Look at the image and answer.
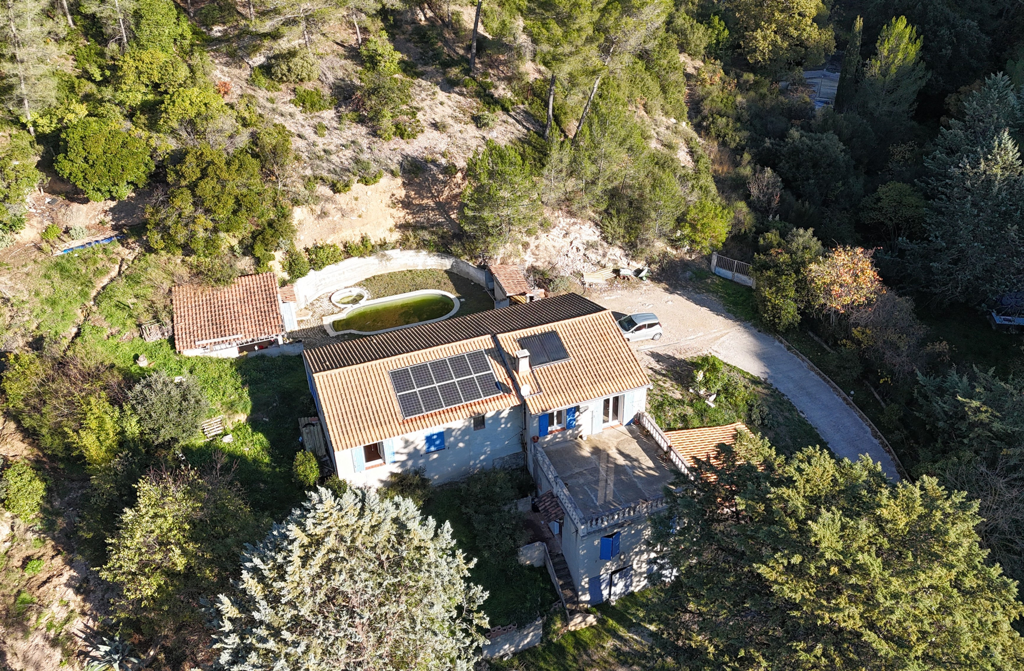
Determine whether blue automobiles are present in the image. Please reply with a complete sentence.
No, there is no blue automobile in the image.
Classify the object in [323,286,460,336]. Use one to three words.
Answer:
swimming pool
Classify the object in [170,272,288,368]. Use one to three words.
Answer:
shed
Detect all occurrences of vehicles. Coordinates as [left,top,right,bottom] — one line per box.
[616,314,666,345]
